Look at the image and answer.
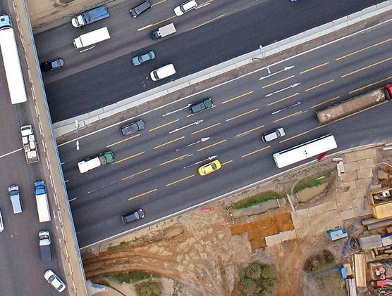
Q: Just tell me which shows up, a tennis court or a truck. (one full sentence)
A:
I can see a truck in this picture.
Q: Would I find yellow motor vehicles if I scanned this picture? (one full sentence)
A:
Yes, there is a yellow motor vehicle in the image.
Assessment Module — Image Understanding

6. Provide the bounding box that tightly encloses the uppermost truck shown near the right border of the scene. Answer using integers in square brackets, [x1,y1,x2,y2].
[314,84,392,124]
